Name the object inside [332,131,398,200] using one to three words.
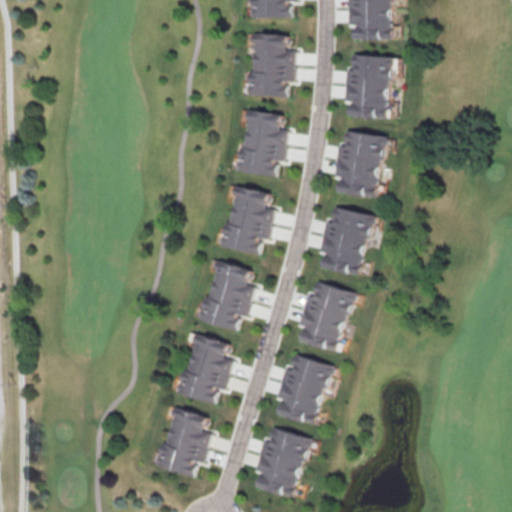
house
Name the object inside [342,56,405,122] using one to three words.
house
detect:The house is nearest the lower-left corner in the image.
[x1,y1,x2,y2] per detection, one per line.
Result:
[154,408,222,478]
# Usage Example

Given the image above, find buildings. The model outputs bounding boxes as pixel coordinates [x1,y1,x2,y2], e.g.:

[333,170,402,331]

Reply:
[332,131,398,200]
[216,186,283,254]
[154,408,222,478]
[174,333,240,405]
[276,356,342,426]
[248,0,304,20]
[195,260,262,330]
[346,0,408,41]
[297,282,367,354]
[243,34,304,98]
[342,56,405,122]
[254,430,323,500]
[318,207,386,277]
[232,110,296,177]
